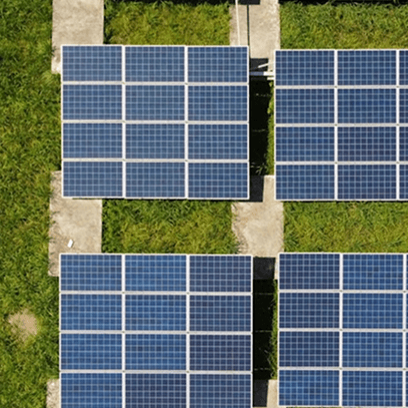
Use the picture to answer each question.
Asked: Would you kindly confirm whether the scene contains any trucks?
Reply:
No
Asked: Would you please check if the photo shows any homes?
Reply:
No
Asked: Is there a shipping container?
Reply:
No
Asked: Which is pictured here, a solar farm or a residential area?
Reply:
solar farm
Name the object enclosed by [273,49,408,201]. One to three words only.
solar array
